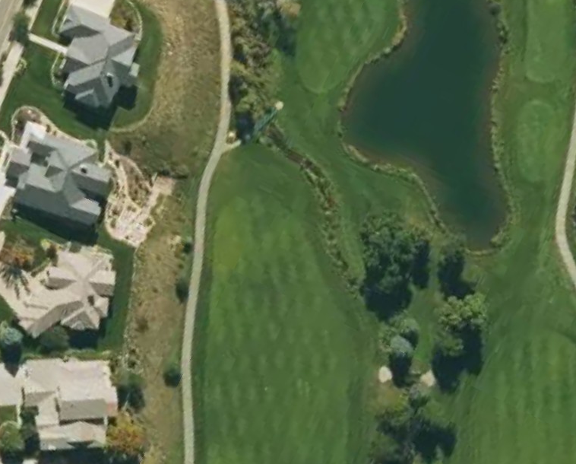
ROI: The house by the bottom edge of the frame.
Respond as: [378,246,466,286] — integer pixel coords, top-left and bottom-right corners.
[23,358,115,451]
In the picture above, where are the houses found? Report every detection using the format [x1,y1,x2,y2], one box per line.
[23,358,115,451]
[59,2,139,110]
[5,134,114,225]
[18,247,116,344]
